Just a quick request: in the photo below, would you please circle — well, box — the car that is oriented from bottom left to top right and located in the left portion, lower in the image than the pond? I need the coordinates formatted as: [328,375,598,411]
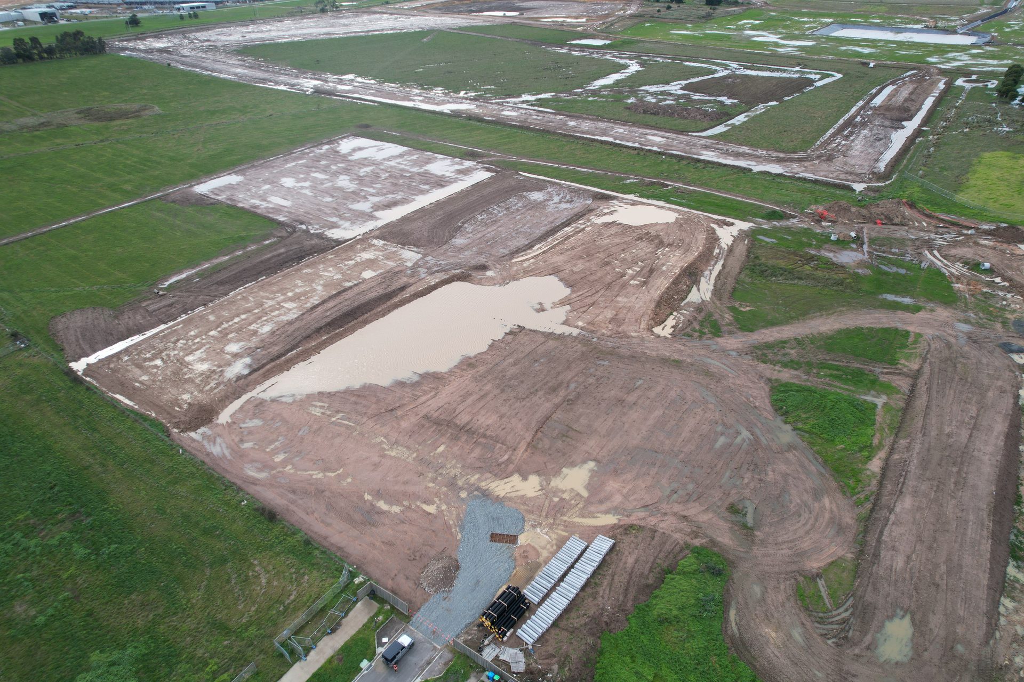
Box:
[379,631,418,667]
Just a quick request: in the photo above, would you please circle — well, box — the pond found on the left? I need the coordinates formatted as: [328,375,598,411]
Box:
[218,273,582,425]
